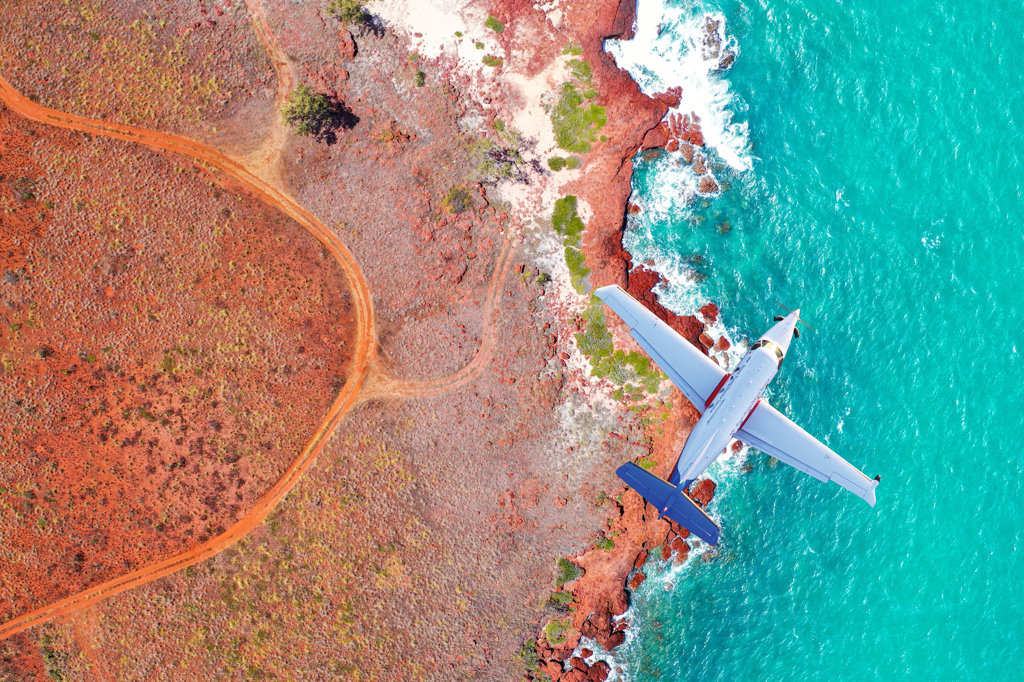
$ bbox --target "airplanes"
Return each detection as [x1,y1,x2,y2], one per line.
[594,289,887,547]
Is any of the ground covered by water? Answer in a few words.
Yes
